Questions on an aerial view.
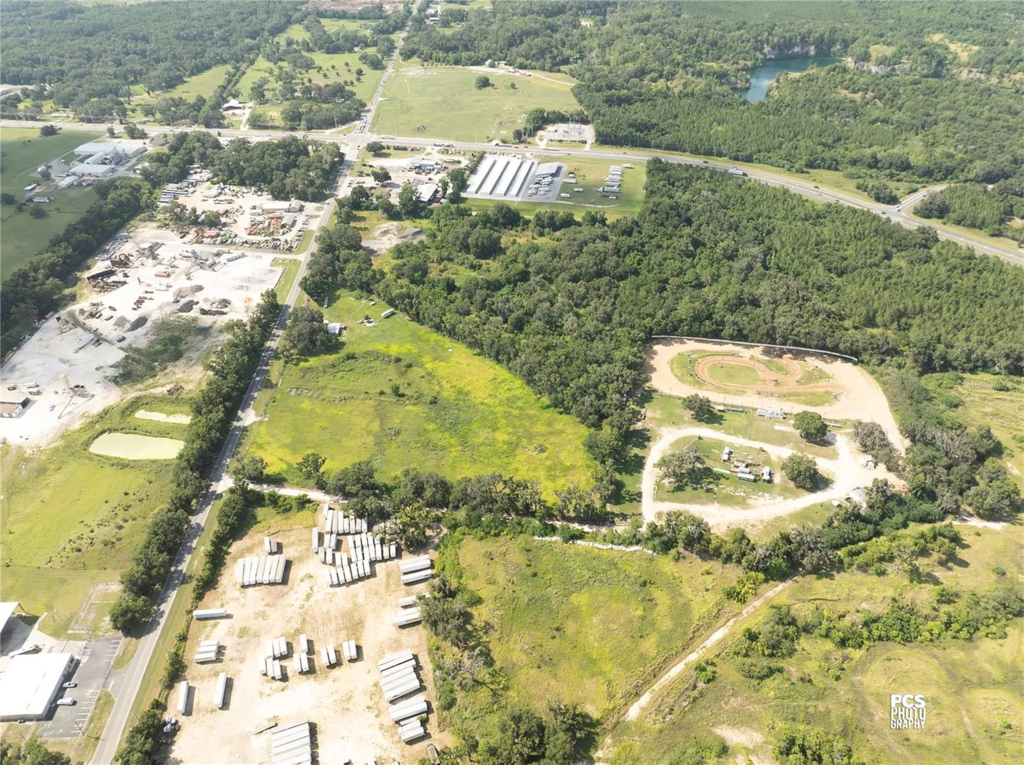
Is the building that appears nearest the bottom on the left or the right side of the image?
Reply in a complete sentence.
You can find the building that appears nearest the bottom on the left side of the picture.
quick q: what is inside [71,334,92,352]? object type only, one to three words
vehicle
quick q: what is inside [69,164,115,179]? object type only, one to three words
building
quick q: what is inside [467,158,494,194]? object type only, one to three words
building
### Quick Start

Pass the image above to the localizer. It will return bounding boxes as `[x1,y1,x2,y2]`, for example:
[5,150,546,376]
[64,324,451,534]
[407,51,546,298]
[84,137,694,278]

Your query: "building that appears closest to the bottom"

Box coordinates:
[0,652,79,724]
